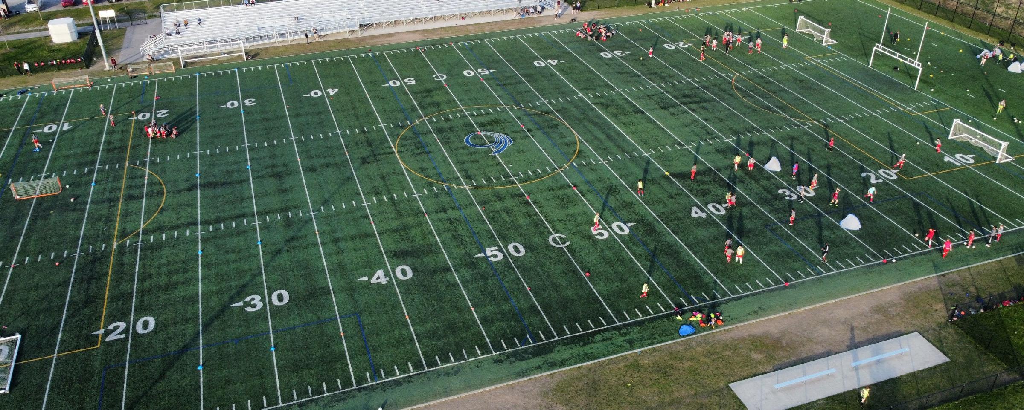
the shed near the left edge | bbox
[44,17,82,45]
